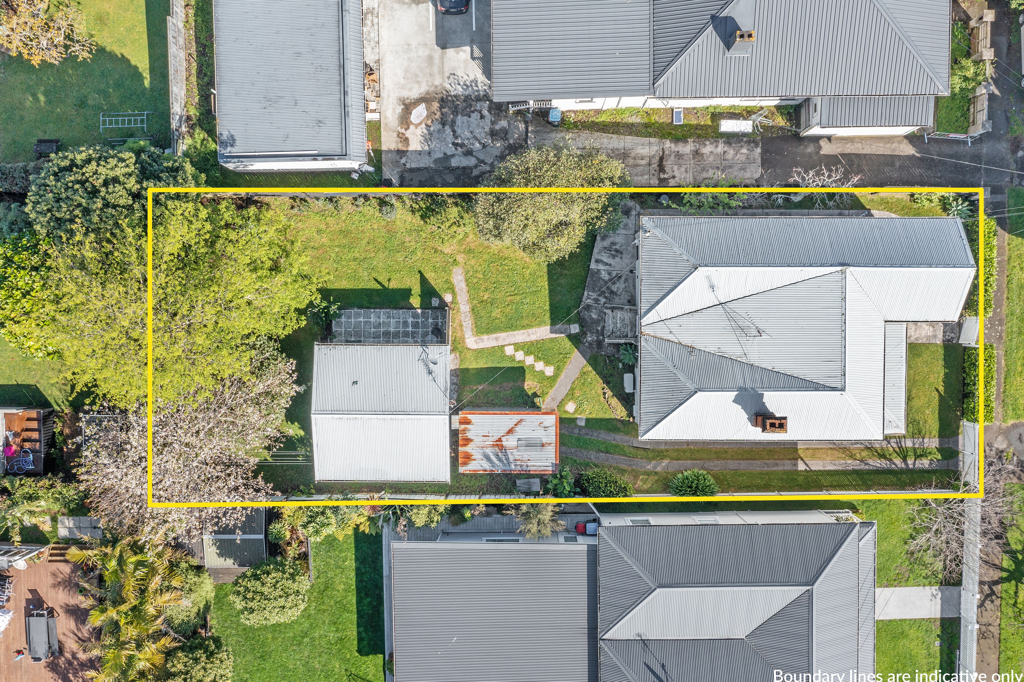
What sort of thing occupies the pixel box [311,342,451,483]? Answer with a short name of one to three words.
shed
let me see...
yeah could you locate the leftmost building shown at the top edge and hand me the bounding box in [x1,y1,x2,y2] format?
[210,0,373,172]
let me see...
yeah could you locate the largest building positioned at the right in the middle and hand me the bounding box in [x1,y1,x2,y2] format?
[604,215,977,443]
